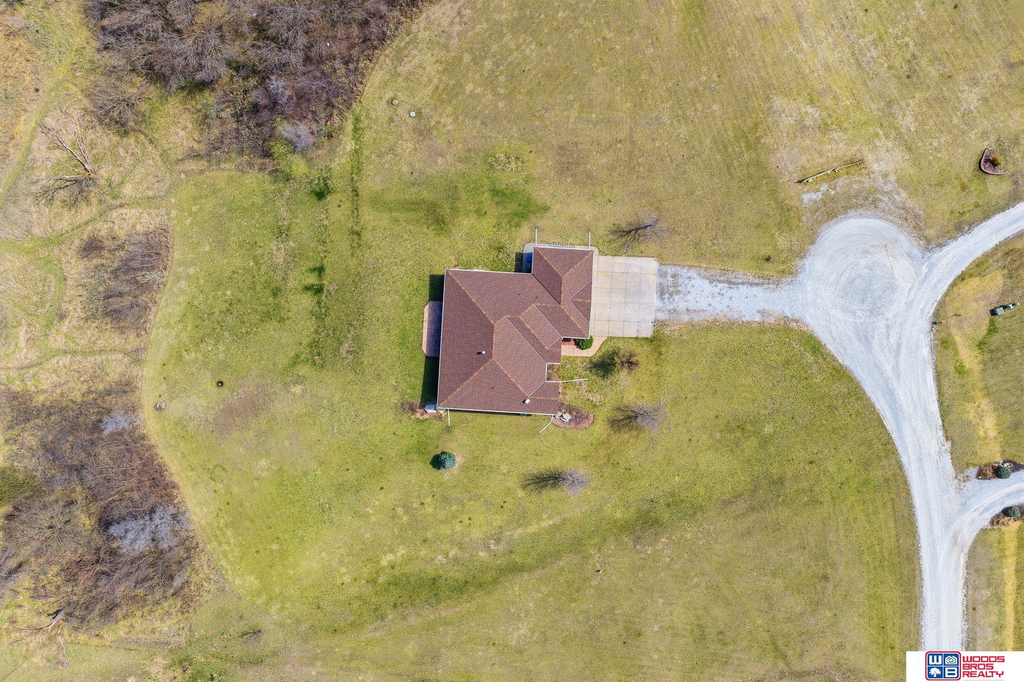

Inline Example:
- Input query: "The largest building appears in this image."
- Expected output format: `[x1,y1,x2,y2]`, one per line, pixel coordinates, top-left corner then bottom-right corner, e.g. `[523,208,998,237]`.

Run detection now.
[436,245,595,416]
